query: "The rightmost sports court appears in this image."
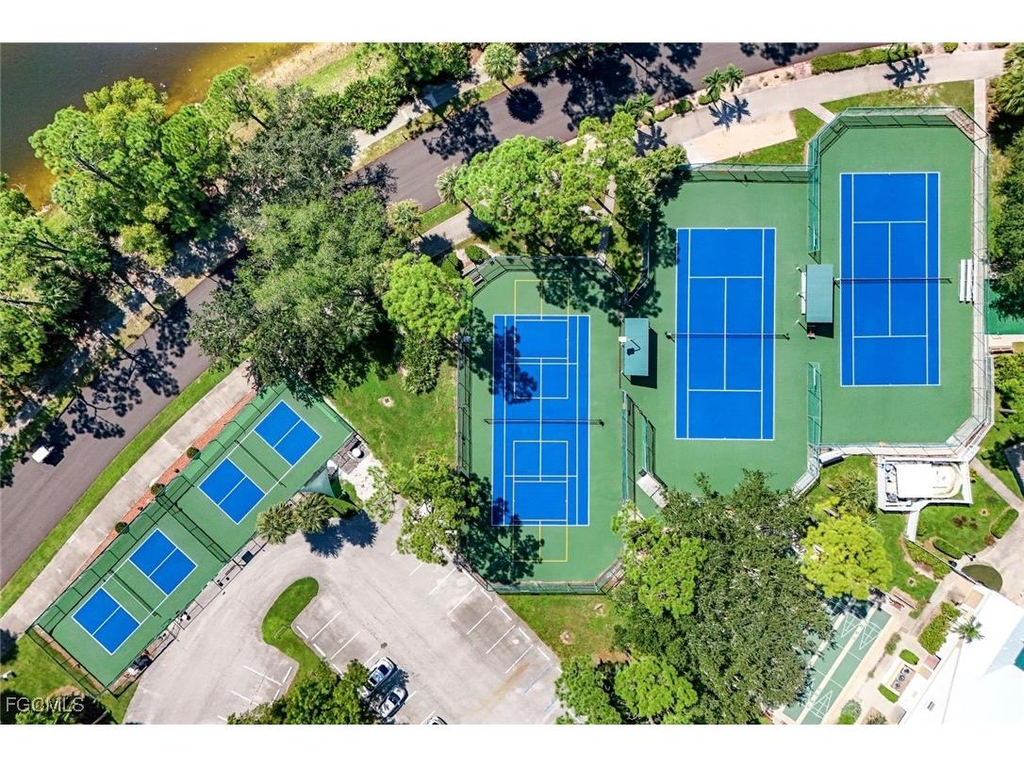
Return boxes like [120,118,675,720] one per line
[984,279,1024,345]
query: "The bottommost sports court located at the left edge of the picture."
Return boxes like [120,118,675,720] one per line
[38,497,233,688]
